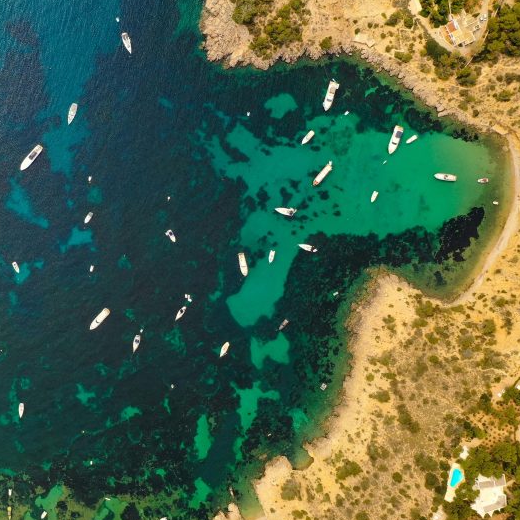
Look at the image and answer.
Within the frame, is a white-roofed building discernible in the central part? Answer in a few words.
No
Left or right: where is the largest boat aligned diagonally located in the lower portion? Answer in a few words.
left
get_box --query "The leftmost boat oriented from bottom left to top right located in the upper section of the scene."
[22,144,43,170]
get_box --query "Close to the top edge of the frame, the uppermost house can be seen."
[438,11,478,48]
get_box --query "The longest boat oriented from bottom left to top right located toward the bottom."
[90,306,110,330]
